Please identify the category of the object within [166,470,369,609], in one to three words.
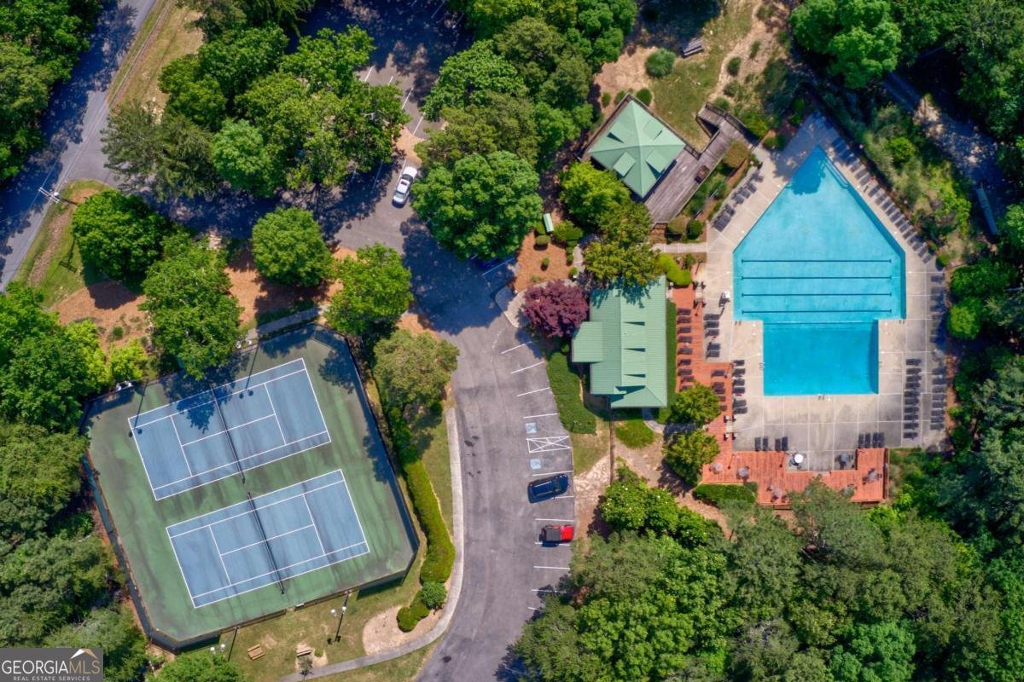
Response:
tennis court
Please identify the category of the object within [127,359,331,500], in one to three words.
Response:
tennis court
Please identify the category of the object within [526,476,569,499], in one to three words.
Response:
car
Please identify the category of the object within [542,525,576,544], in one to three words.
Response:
car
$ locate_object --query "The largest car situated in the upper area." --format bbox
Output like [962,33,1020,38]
[391,165,418,203]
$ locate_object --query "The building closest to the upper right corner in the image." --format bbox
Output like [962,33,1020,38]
[589,99,686,198]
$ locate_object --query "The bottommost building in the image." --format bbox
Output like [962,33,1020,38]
[572,274,668,409]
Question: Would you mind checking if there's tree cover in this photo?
Yes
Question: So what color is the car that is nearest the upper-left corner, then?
white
